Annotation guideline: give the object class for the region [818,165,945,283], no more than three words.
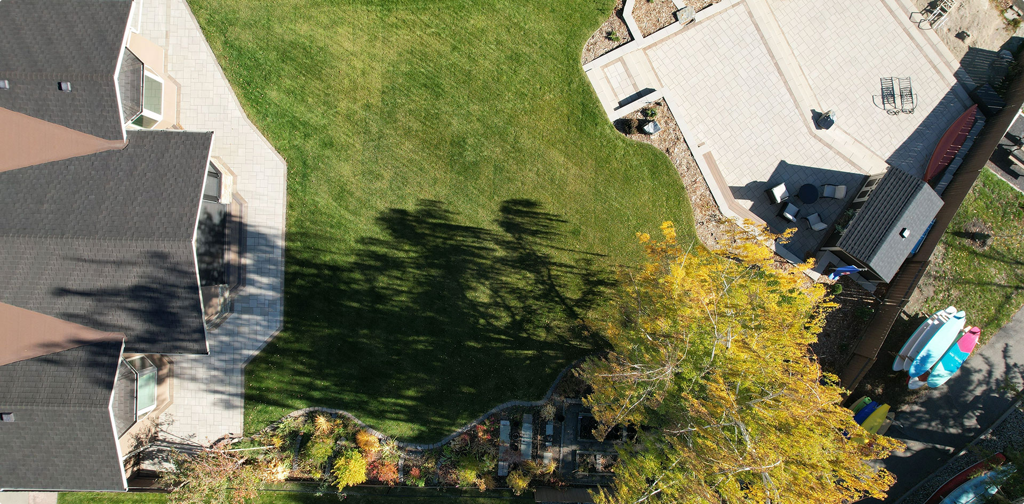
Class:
shed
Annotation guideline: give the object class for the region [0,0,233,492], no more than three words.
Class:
house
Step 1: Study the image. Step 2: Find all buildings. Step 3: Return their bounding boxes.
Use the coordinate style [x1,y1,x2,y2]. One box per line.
[818,165,945,283]
[0,0,233,492]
